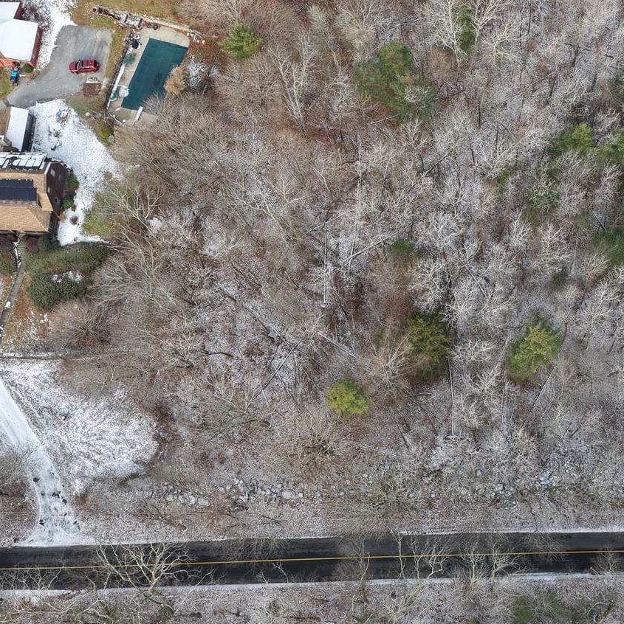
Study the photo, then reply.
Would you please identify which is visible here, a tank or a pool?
pool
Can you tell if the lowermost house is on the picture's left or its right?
left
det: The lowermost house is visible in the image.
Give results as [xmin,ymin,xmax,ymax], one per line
[0,152,70,238]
